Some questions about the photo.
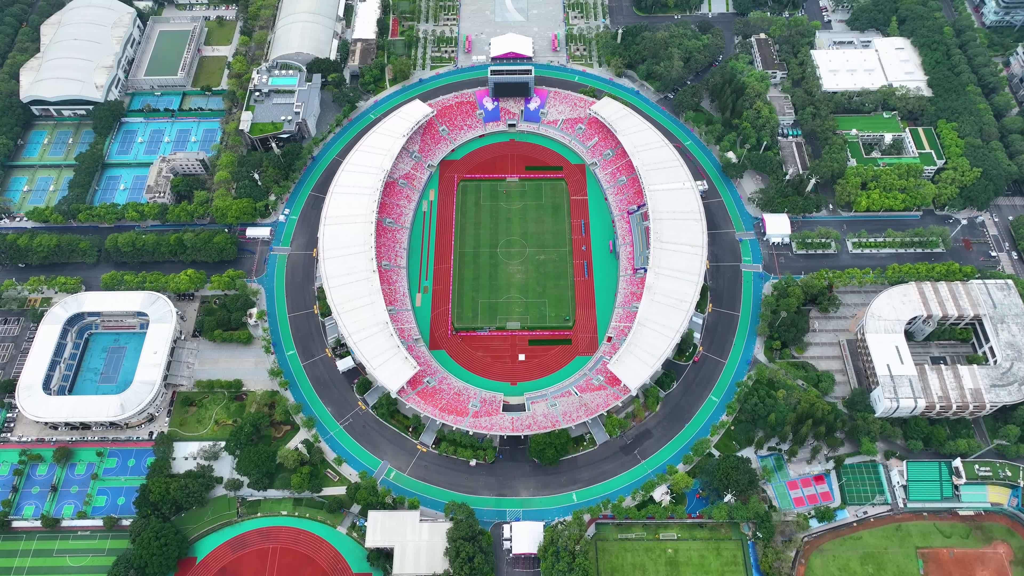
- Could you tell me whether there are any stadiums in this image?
Yes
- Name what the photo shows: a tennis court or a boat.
tennis court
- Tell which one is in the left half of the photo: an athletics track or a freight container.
athletics track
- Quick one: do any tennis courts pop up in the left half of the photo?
Yes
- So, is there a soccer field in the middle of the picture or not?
Yes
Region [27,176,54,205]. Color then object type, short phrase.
blue tennis court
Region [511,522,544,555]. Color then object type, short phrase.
white tent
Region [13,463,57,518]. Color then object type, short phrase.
blue basketball court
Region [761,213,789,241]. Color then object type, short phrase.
white tent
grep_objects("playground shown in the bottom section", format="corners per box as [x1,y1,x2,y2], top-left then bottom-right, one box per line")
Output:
[684,483,724,522]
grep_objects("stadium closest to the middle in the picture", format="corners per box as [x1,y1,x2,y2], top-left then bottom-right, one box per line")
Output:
[316,83,710,442]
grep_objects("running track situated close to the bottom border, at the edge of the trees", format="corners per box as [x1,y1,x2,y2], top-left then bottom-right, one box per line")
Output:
[172,517,385,576]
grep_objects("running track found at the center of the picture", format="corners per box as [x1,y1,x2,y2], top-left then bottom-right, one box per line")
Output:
[429,138,598,389]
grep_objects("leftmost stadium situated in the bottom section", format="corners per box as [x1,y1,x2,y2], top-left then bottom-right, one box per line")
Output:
[16,291,182,427]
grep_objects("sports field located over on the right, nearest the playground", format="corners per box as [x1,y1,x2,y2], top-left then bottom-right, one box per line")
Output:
[597,540,749,576]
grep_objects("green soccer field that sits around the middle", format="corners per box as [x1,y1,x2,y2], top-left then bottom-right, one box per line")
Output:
[450,177,577,332]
